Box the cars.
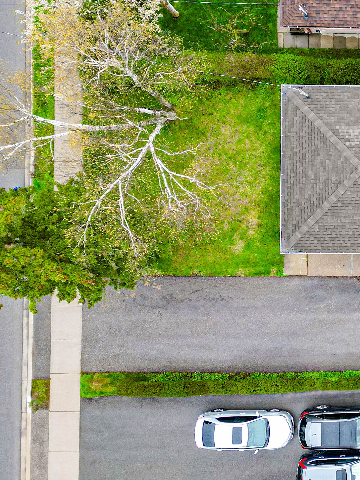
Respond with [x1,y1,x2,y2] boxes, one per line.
[299,402,360,449]
[297,448,360,480]
[195,406,296,457]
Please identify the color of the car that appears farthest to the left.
white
